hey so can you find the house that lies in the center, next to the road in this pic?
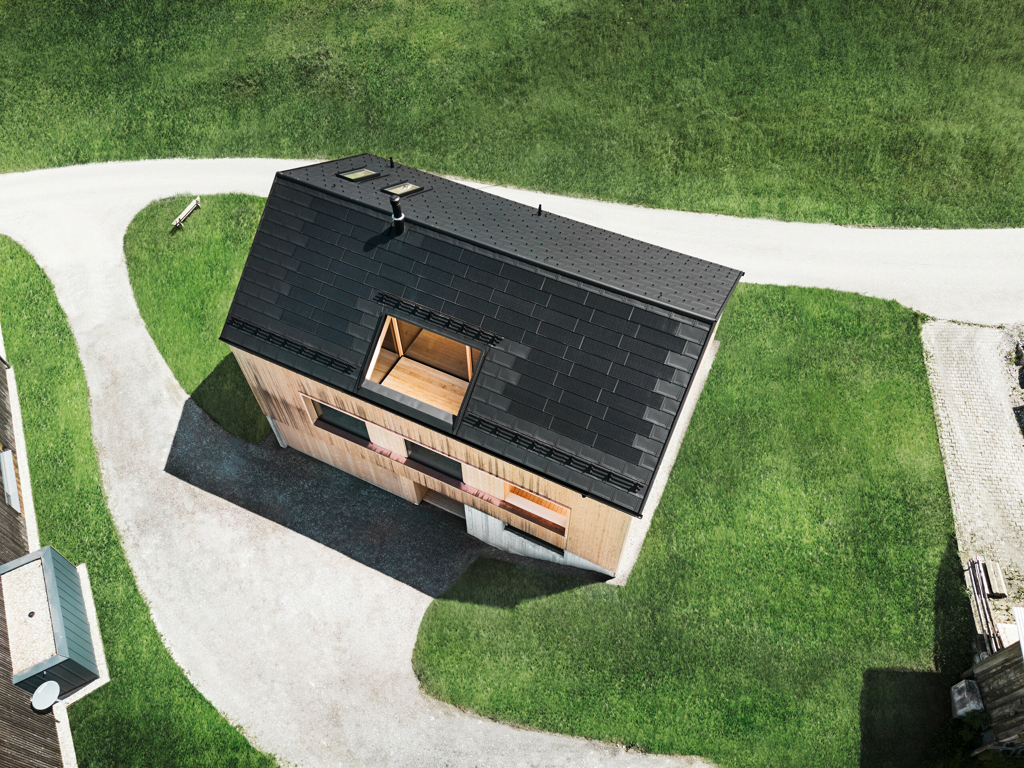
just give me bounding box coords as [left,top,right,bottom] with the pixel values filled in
[216,151,746,575]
